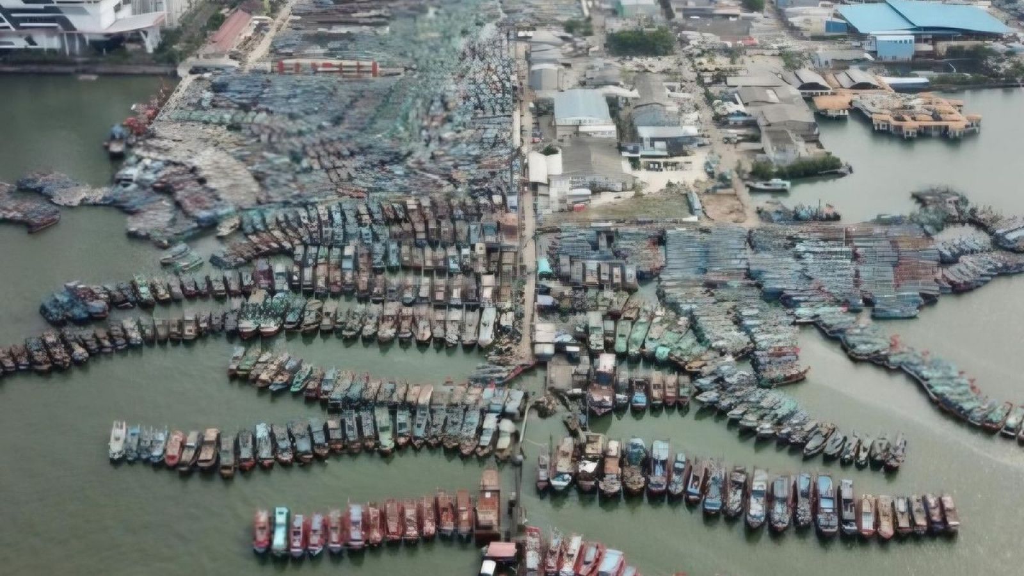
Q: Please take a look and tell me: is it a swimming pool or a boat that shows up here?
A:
boat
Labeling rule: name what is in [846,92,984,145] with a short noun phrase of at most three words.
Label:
building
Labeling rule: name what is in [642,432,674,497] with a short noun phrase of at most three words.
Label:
boat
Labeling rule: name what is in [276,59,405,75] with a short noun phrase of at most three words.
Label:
ship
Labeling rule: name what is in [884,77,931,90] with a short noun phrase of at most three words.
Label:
building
